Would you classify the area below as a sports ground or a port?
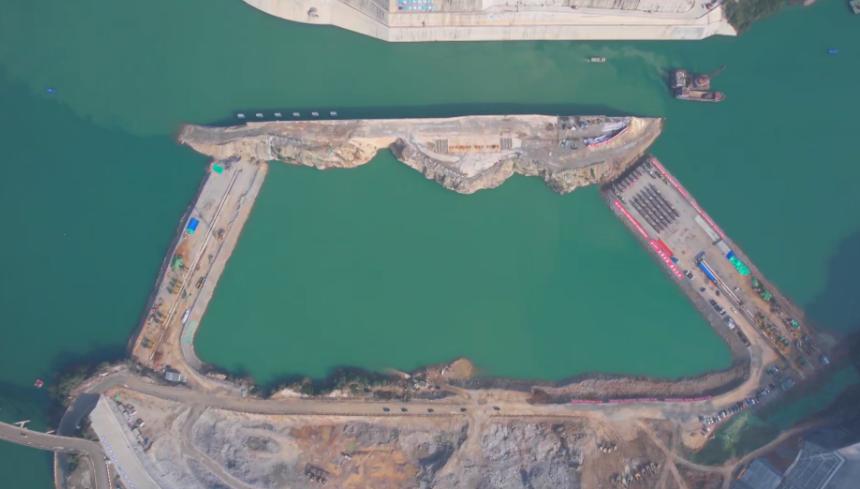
port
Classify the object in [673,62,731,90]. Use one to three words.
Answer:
ship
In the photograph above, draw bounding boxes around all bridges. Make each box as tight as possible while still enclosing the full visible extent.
[0,420,83,456]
